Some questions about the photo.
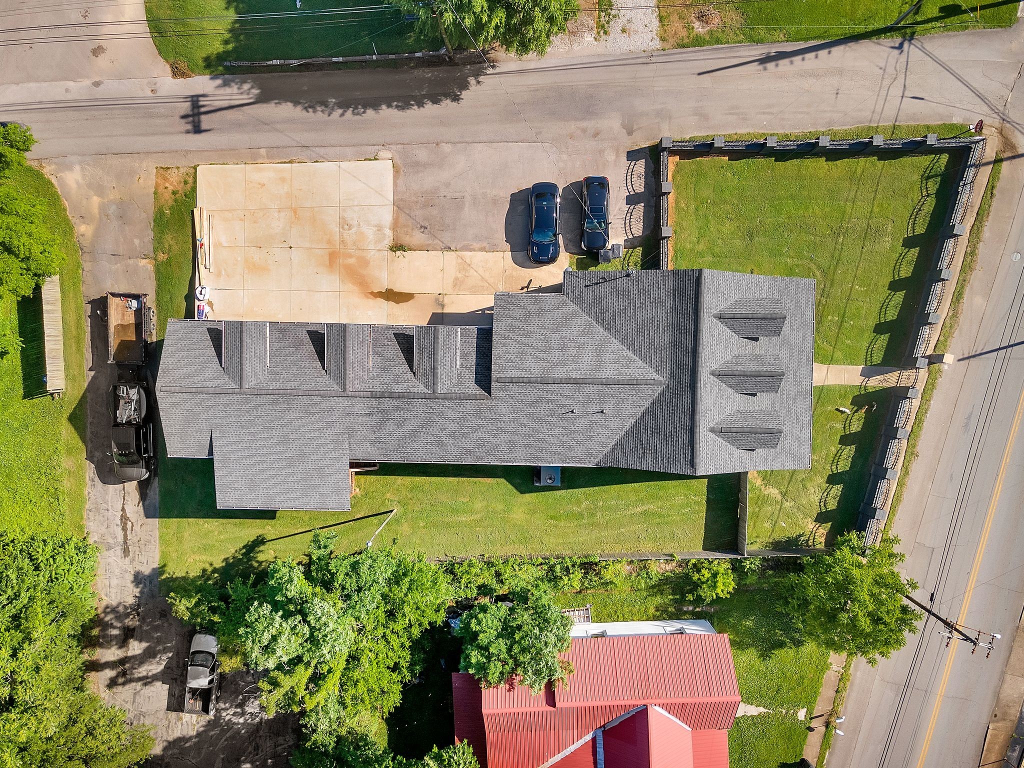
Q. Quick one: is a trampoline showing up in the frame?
No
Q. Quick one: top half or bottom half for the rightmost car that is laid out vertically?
top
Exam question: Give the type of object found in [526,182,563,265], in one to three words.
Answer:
car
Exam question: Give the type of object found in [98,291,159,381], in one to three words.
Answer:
trailer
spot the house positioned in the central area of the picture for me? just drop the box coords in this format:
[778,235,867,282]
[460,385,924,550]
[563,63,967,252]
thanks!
[156,268,818,513]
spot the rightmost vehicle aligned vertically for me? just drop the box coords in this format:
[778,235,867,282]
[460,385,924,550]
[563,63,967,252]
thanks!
[578,176,613,253]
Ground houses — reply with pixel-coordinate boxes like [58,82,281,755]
[451,620,742,768]
[156,268,818,513]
